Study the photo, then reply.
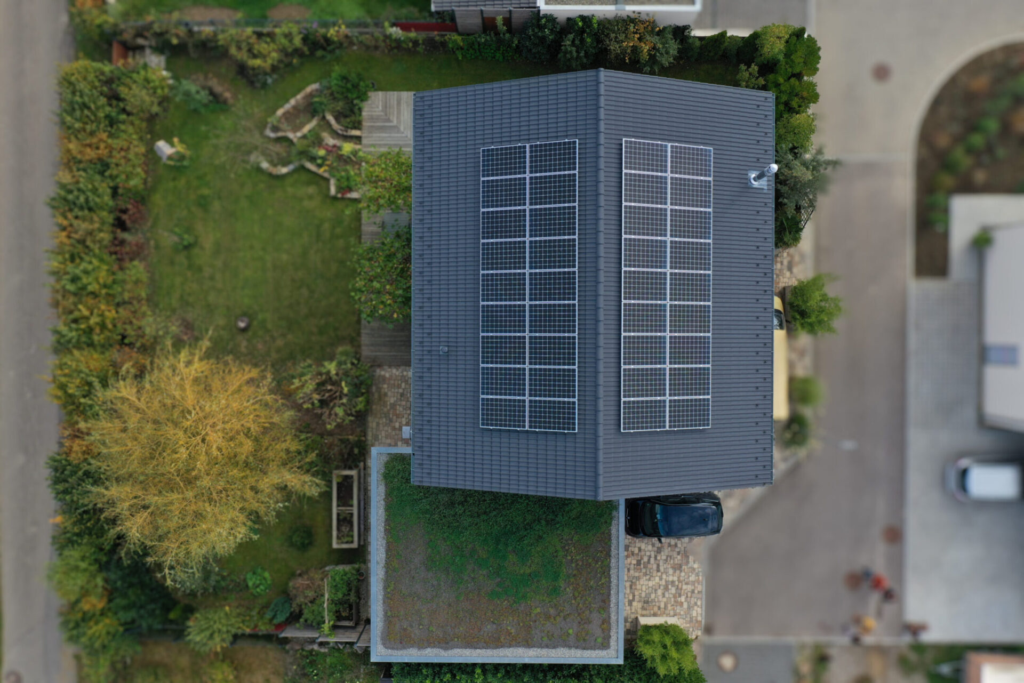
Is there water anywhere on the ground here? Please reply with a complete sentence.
No, the picture contains no water.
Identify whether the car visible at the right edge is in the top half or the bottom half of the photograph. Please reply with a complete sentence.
You can find the car visible at the right edge in the bottom half.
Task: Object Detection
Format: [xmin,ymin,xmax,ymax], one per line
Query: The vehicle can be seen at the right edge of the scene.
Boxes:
[944,454,1024,508]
